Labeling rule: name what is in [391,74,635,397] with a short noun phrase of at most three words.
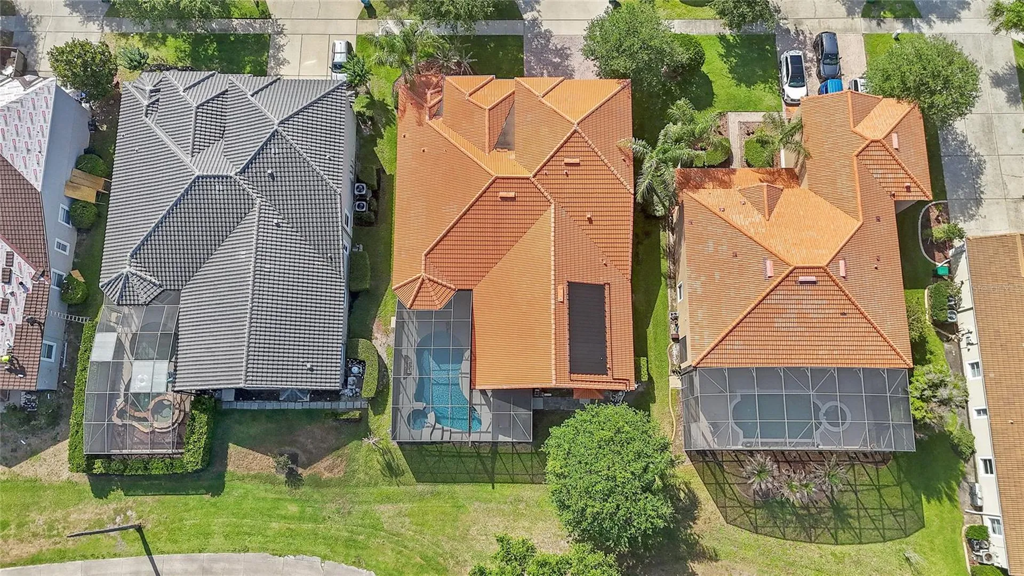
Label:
house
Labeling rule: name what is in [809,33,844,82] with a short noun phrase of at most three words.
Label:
car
